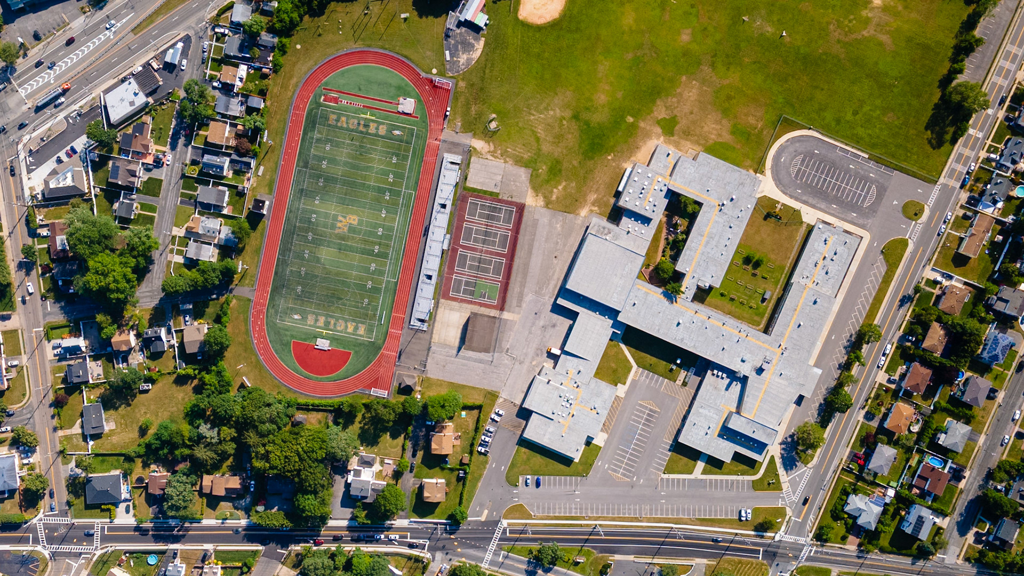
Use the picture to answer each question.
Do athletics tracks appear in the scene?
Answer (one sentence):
Yes, this view includes an athletics track.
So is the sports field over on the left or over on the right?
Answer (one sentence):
The sports field is on the left side of the image.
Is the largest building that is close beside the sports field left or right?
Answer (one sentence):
The largest building that is close beside the sports field is on the right side of the image.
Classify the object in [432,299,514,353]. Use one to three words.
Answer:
sports court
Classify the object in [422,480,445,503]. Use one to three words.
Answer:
house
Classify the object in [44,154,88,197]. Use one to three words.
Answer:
building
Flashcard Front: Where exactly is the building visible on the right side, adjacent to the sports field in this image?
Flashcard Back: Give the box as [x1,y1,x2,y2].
[522,145,862,463]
